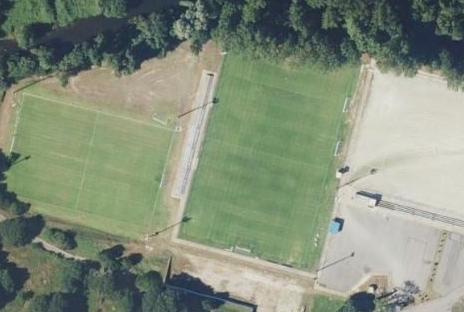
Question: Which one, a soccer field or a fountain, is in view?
soccer field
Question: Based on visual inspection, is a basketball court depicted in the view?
No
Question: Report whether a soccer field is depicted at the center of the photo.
Yes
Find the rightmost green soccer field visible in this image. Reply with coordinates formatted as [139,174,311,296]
[180,54,362,272]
